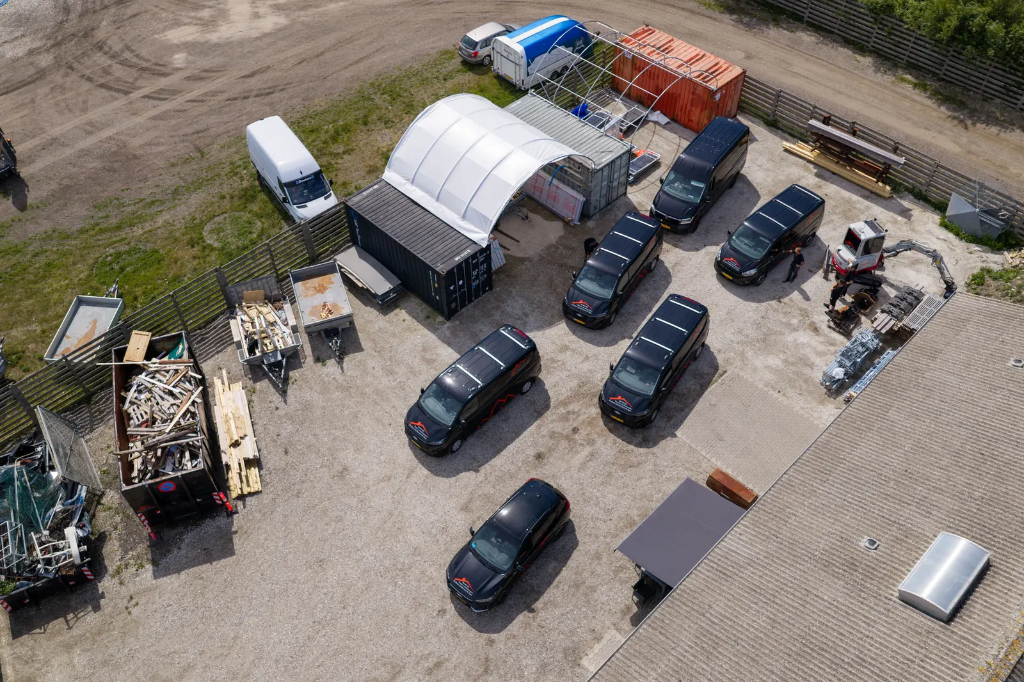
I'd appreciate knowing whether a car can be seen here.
Yes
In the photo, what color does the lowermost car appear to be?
black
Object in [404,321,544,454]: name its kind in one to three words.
van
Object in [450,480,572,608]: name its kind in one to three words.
car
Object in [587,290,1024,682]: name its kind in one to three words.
building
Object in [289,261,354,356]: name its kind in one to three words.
trailer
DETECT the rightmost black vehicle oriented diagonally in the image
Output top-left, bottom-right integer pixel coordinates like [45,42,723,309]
[717,186,827,286]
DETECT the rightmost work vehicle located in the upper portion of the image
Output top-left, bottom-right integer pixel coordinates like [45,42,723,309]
[823,216,948,296]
